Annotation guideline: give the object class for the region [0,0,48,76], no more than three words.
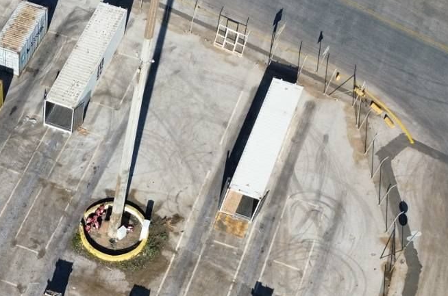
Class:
shipping container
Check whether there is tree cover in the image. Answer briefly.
No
